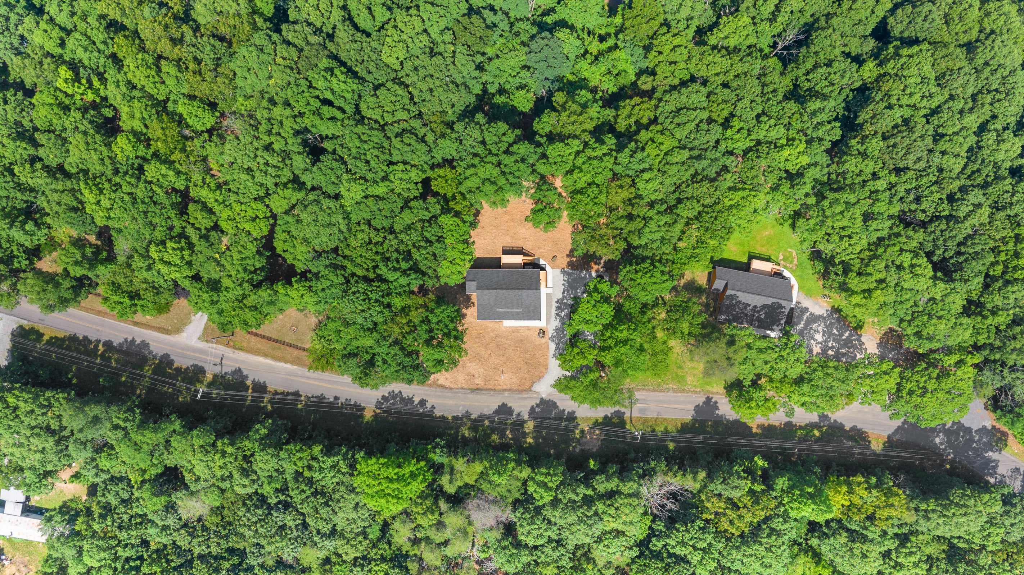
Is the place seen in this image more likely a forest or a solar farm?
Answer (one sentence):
The picture captures a forest.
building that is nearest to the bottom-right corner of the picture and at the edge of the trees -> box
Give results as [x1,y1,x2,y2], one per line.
[708,258,792,331]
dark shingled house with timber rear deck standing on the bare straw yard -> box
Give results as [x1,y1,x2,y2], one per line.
[465,254,547,321]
